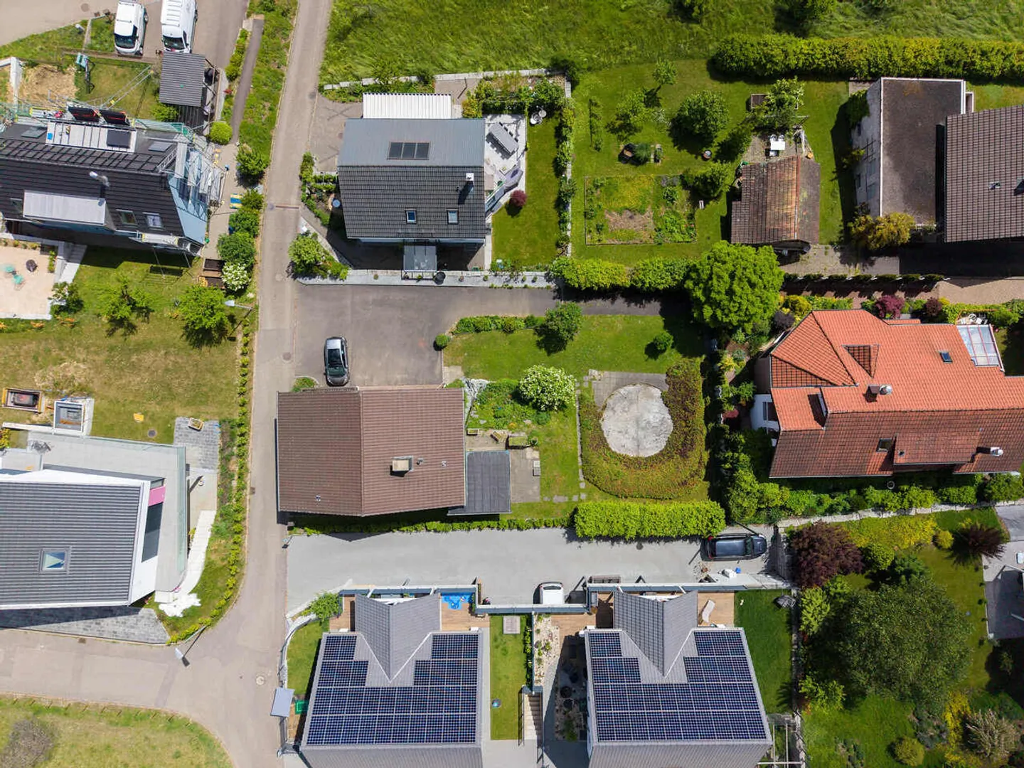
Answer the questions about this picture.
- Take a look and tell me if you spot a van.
Yes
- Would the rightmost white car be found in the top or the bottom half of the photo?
bottom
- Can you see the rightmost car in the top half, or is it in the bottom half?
bottom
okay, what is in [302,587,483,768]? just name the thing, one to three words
house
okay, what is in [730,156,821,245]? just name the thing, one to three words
shed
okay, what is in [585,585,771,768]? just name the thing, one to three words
house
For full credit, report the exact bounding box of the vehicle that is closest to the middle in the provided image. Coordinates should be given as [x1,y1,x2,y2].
[321,335,350,387]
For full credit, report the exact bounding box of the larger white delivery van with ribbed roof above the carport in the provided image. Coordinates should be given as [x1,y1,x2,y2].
[161,0,201,55]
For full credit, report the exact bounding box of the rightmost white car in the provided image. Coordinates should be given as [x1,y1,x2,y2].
[539,581,562,602]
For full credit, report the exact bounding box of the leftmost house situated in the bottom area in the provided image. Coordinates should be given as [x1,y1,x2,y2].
[0,465,165,614]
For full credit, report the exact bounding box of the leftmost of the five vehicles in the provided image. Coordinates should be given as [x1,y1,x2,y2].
[115,0,152,58]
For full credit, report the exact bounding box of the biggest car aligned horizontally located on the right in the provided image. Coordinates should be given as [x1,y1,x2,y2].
[701,533,767,564]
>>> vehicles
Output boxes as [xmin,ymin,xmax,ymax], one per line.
[701,533,767,564]
[115,0,152,58]
[321,335,350,387]
[539,581,562,602]
[161,0,201,55]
